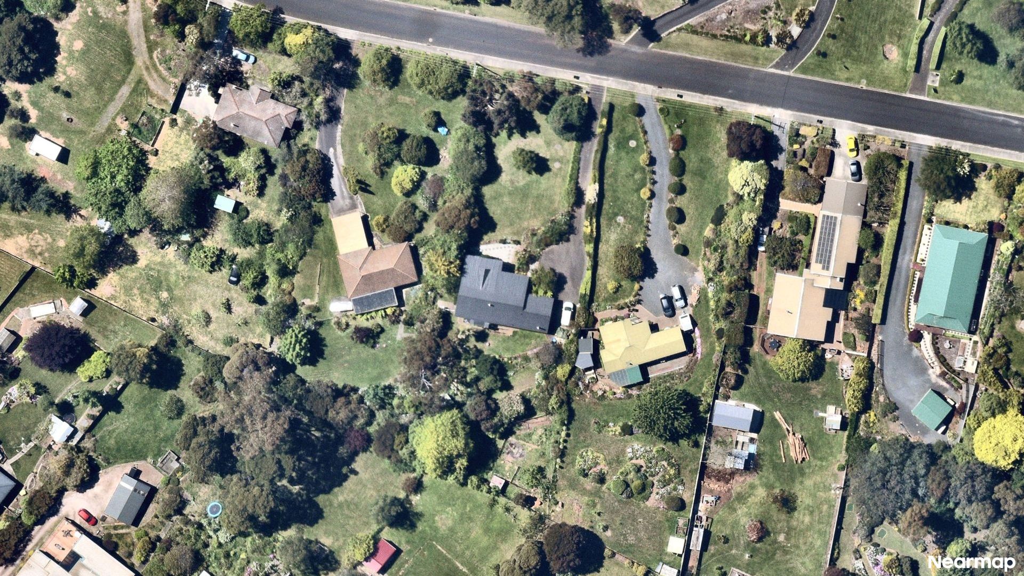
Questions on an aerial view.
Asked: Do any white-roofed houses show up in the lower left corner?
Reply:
Yes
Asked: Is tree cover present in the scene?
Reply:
Yes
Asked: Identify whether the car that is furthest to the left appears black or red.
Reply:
red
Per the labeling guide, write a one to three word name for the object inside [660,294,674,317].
car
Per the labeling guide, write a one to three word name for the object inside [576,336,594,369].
shed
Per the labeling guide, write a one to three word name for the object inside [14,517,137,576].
house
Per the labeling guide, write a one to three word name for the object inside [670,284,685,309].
car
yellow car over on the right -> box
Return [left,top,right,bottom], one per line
[846,135,858,157]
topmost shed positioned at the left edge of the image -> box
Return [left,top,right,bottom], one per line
[30,133,61,162]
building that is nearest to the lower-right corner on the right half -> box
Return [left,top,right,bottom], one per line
[913,387,952,430]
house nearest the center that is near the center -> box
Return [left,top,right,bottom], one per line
[456,254,554,333]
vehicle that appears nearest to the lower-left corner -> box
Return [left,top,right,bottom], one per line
[76,508,99,528]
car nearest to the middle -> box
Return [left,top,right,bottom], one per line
[562,301,574,326]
